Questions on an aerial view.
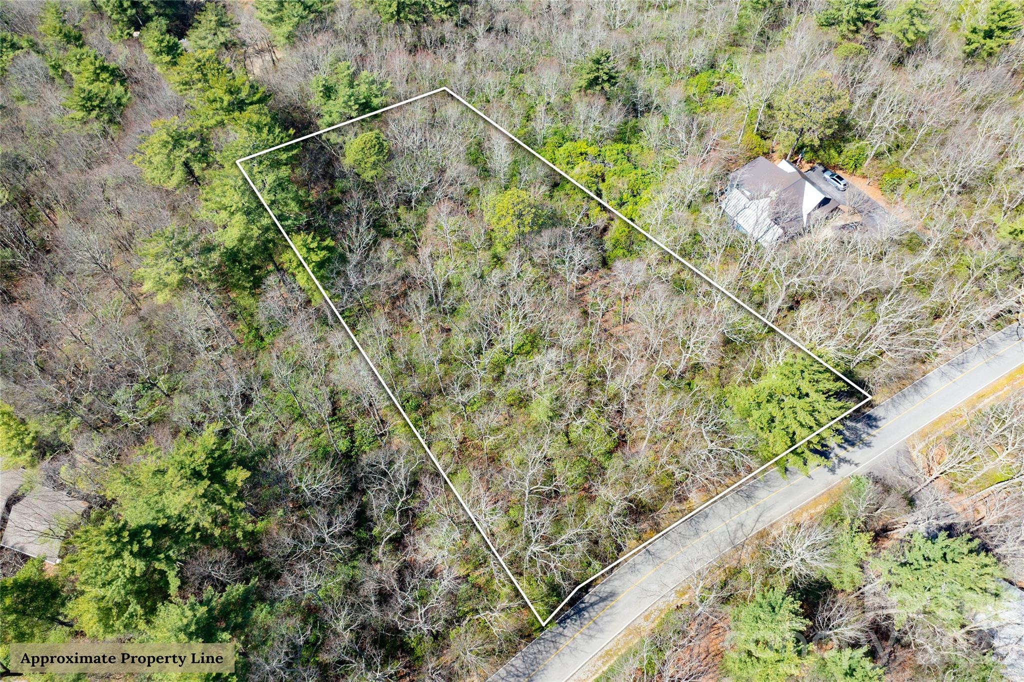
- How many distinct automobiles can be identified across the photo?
1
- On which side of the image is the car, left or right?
right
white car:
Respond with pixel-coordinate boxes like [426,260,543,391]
[822,171,851,192]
